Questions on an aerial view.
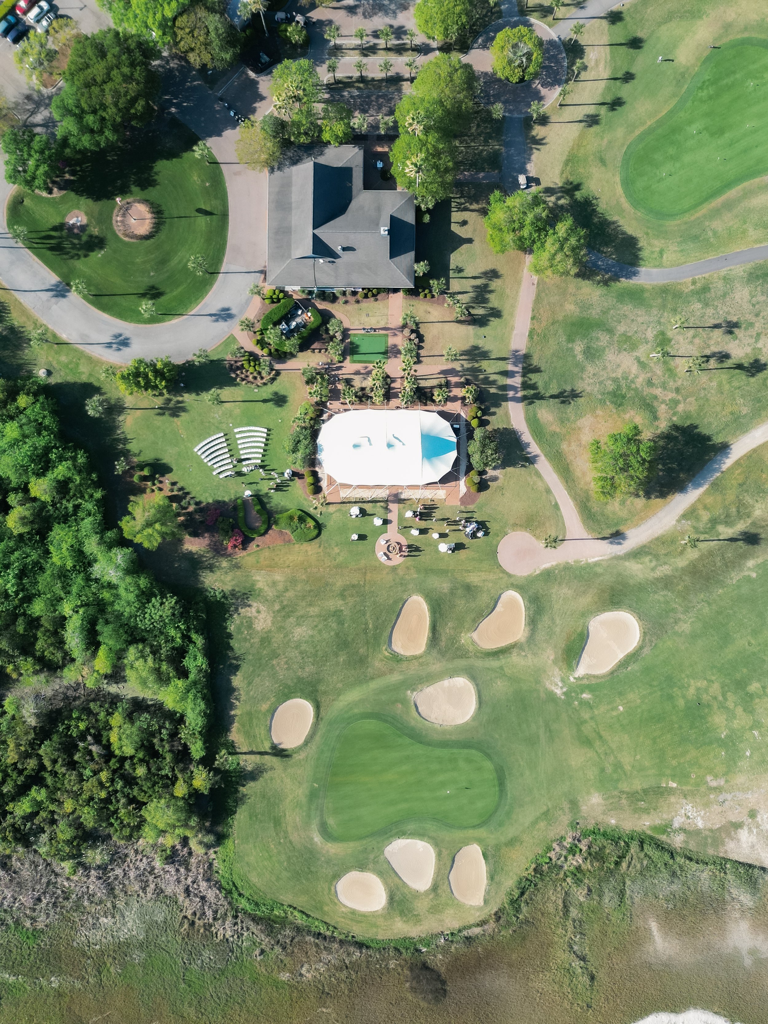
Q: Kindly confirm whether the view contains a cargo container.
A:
No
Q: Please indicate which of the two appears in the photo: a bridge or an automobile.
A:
automobile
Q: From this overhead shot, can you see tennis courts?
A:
No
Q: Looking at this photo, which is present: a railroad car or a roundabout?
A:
roundabout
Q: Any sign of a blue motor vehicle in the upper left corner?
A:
Yes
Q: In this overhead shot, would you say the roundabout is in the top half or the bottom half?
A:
top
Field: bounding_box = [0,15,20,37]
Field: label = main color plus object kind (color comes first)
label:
blue car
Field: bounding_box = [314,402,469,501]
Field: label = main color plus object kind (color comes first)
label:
white tent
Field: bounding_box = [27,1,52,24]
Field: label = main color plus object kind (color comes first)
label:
white car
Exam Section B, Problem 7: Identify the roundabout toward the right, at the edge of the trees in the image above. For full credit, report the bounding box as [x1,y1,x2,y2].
[470,17,567,115]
